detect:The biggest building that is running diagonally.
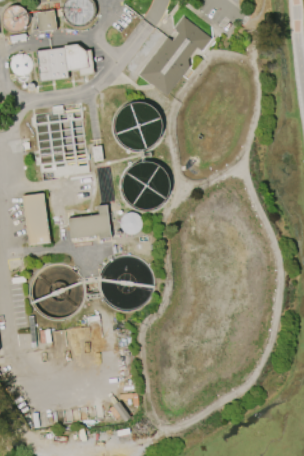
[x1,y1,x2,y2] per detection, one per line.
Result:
[140,16,210,96]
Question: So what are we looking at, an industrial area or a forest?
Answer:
industrial area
